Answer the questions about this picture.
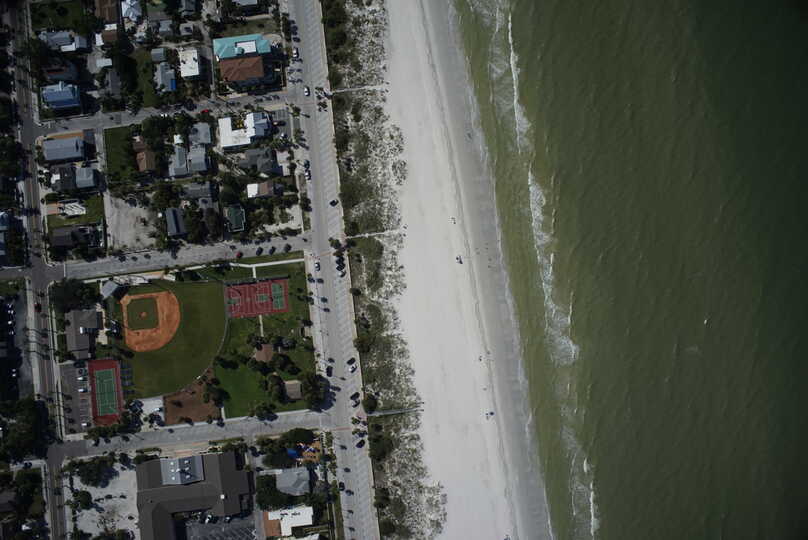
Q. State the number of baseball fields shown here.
1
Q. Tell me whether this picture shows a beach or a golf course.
beach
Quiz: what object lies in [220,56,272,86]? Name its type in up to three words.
house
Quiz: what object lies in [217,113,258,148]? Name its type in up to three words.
house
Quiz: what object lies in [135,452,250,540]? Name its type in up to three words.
building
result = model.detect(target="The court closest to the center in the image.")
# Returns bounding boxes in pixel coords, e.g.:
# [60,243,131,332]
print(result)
[226,279,290,318]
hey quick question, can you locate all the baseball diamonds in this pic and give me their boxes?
[119,282,227,399]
